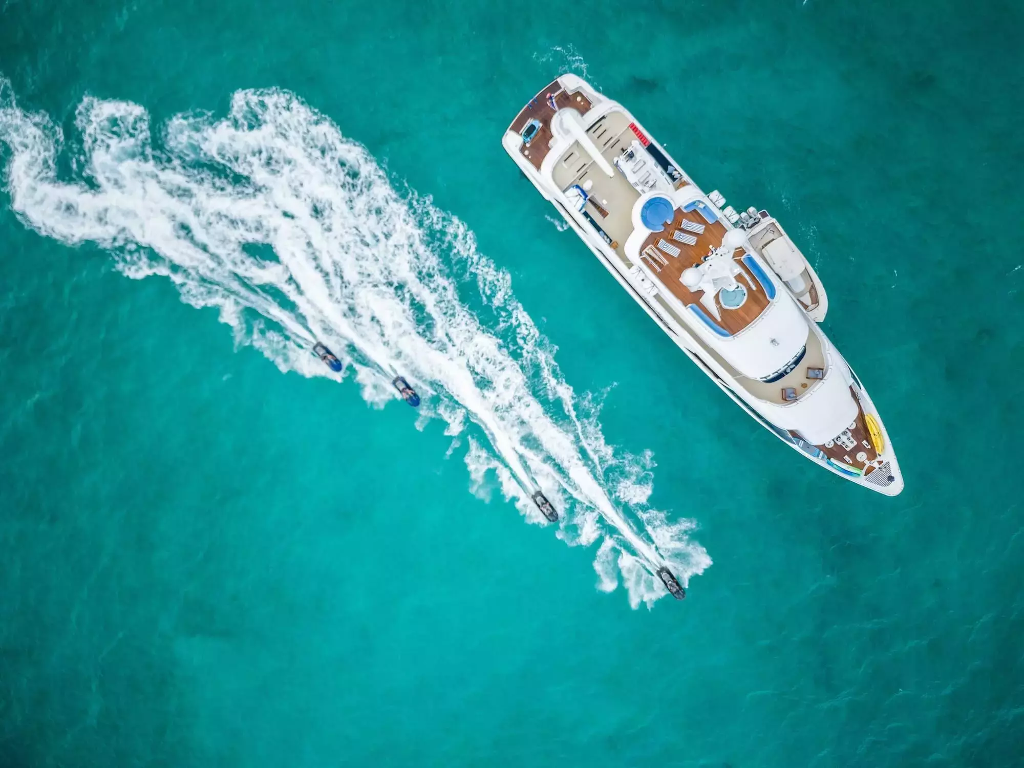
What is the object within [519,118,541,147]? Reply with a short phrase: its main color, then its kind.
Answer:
blue boat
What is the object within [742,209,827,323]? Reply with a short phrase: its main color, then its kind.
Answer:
white boat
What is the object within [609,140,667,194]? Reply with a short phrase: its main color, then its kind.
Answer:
white boat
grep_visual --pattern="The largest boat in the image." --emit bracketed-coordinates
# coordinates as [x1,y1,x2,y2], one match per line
[501,78,901,495]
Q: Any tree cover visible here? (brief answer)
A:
No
